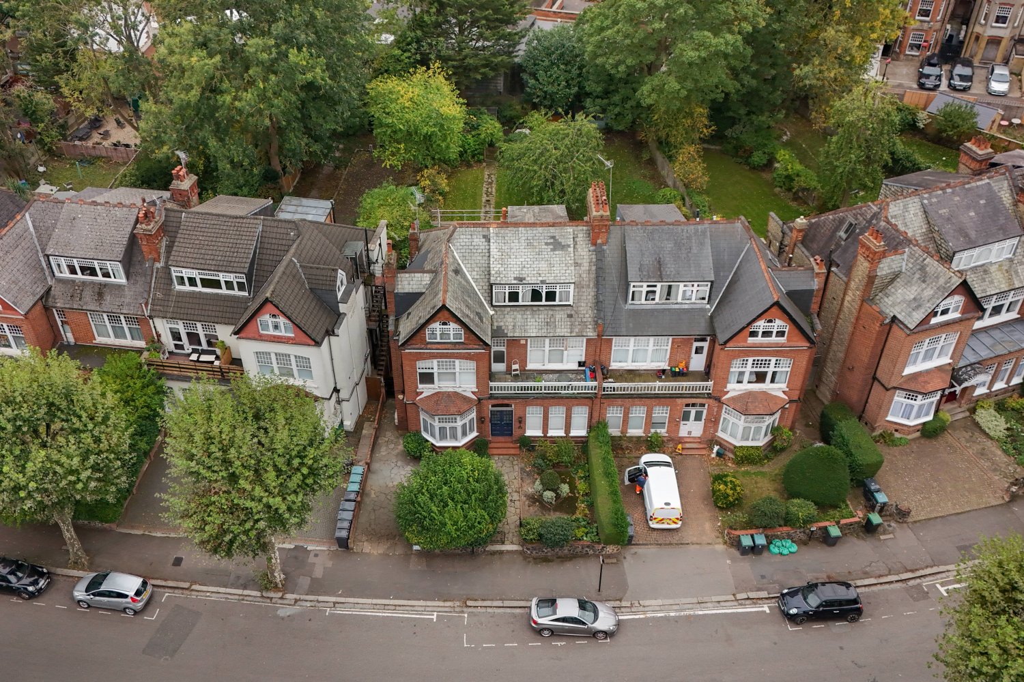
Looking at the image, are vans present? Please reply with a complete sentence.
Yes, there is a van in the image.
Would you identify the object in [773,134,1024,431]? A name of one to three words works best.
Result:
house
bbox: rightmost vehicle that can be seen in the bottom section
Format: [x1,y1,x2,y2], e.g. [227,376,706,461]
[783,581,863,626]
